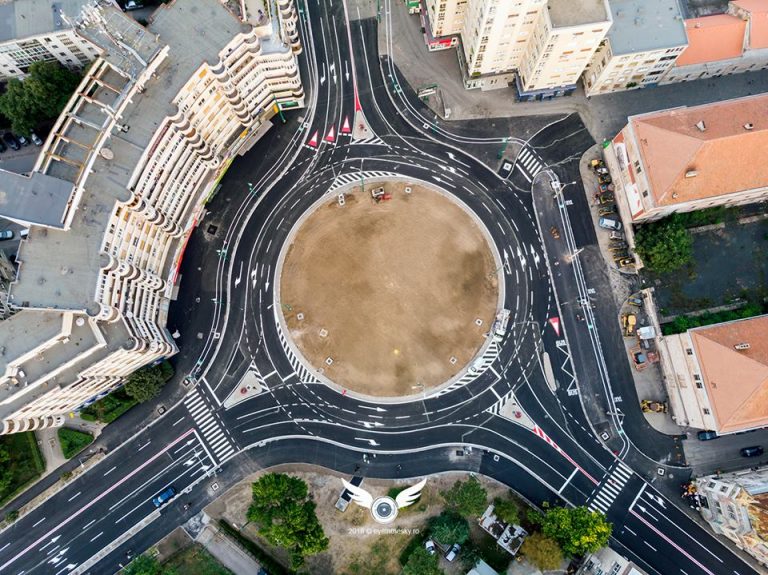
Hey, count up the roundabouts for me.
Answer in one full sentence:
The picture shows 1 roundabout.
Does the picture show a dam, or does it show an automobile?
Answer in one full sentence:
Looking from above, you can make out an automobile.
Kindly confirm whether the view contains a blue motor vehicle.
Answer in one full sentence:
Yes, the image includes a blue motor vehicle.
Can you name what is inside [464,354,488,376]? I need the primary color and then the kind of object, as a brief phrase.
white vehicle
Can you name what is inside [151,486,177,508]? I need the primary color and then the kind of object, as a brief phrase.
blue car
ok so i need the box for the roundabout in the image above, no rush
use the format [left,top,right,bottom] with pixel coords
[214,5,608,481]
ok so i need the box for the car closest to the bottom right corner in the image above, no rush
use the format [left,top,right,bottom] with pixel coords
[737,444,766,459]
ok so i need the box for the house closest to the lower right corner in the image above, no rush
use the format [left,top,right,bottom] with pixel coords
[694,467,768,568]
